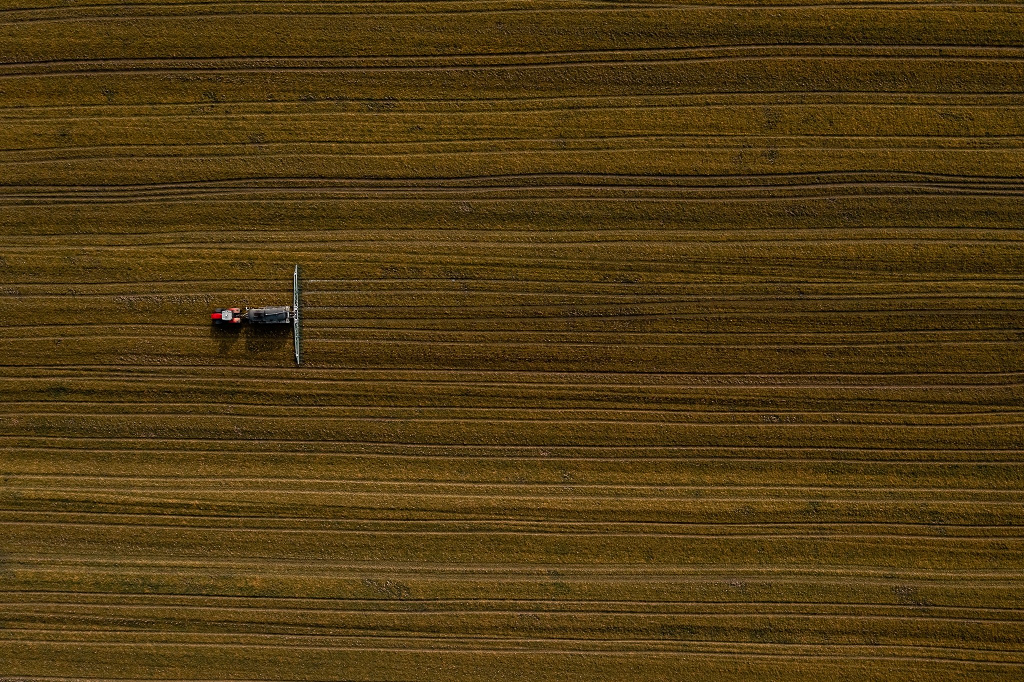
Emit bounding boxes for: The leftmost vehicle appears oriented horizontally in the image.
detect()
[211,308,247,324]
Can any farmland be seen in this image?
Yes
